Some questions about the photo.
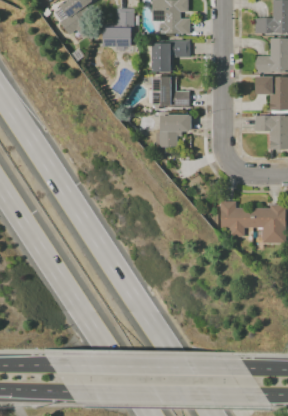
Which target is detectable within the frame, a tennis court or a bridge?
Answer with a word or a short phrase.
bridge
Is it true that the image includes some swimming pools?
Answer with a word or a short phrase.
Yes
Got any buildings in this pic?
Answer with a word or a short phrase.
Yes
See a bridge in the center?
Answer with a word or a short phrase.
No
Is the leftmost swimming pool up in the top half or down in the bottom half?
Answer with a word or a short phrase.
top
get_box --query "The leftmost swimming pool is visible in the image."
[108,57,136,99]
